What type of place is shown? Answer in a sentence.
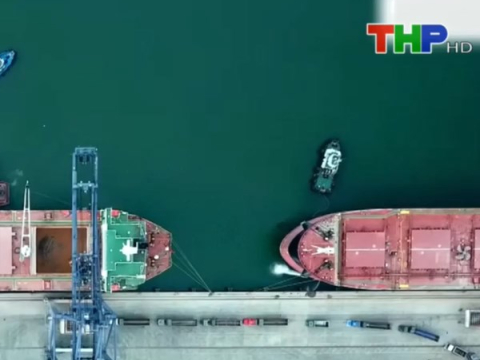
This image shows a port.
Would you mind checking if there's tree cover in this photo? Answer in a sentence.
No, there is no tree cover in the image.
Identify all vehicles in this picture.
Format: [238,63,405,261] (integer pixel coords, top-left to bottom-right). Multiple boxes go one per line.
[343,320,389,330]
[394,326,441,341]
[242,317,288,325]
[116,318,150,325]
[460,352,474,360]
[306,320,328,326]
[197,318,240,326]
[443,345,467,357]
[151,319,196,326]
